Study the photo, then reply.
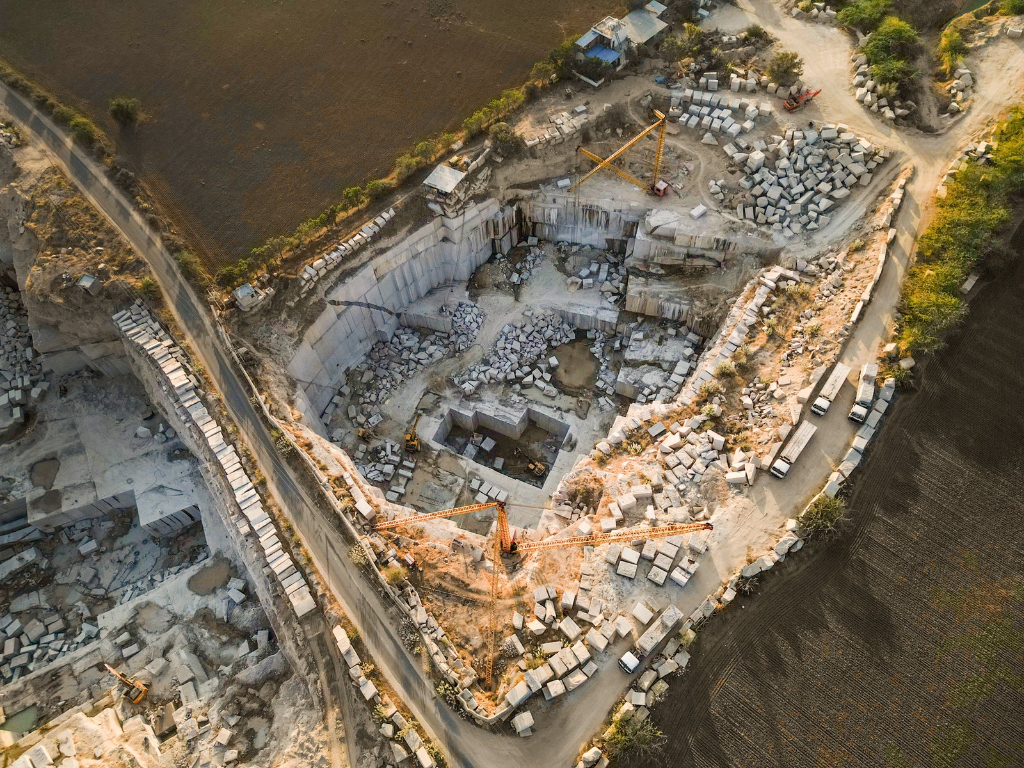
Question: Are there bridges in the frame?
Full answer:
No, there isn't any bridge down there.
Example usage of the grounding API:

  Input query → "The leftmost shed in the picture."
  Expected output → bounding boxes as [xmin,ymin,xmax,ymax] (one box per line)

[77,274,102,298]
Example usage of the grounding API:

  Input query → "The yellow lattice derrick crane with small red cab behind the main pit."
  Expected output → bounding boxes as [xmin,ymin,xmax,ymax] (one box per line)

[566,108,670,194]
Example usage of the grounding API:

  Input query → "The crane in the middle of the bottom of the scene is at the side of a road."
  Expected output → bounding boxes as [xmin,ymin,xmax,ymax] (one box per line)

[372,500,716,694]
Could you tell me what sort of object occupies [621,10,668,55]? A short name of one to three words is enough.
shed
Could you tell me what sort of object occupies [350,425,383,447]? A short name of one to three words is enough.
work vehicle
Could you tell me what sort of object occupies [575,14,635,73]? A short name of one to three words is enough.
house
